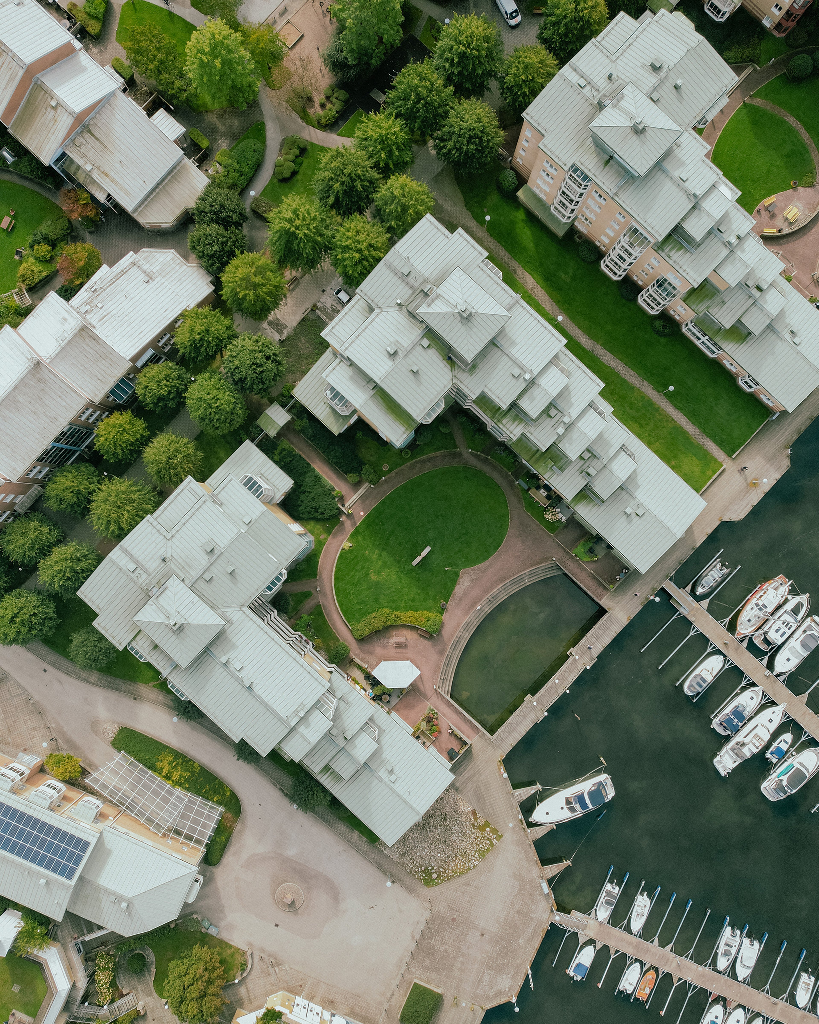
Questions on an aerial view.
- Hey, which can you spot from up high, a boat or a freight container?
boat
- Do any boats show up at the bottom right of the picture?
Yes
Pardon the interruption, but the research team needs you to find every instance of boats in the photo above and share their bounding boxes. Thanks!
[709,687,764,740]
[735,575,792,636]
[635,969,657,1003]
[599,881,621,922]
[773,608,819,676]
[569,946,596,983]
[751,1017,765,1024]
[756,745,819,804]
[722,1007,745,1024]
[530,772,616,821]
[749,595,811,652]
[735,935,761,981]
[680,656,725,701]
[718,924,741,971]
[697,1003,725,1024]
[796,969,817,1009]
[617,962,642,995]
[696,559,732,596]
[764,734,794,764]
[708,704,788,779]
[631,891,652,935]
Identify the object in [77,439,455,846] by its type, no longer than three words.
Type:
building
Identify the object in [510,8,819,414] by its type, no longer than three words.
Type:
building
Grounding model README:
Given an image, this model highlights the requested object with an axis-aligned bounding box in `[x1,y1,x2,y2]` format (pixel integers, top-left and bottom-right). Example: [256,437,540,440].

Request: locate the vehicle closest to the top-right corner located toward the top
[495,0,520,28]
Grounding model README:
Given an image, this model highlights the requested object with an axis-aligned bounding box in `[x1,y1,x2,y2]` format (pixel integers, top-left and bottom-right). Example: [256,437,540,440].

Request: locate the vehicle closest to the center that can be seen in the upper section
[333,287,353,308]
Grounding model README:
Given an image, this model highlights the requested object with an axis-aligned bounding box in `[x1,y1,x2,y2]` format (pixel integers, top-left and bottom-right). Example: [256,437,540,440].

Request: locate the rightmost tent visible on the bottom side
[371,658,421,688]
